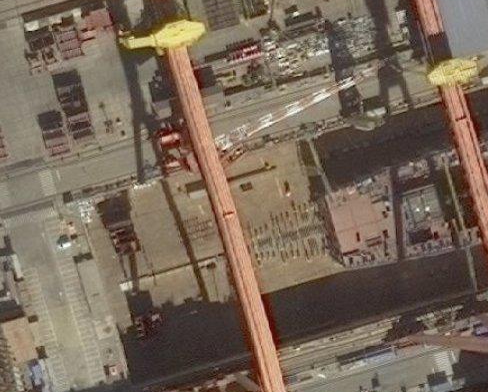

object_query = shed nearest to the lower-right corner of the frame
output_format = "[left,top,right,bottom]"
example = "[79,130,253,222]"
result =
[427,378,460,392]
